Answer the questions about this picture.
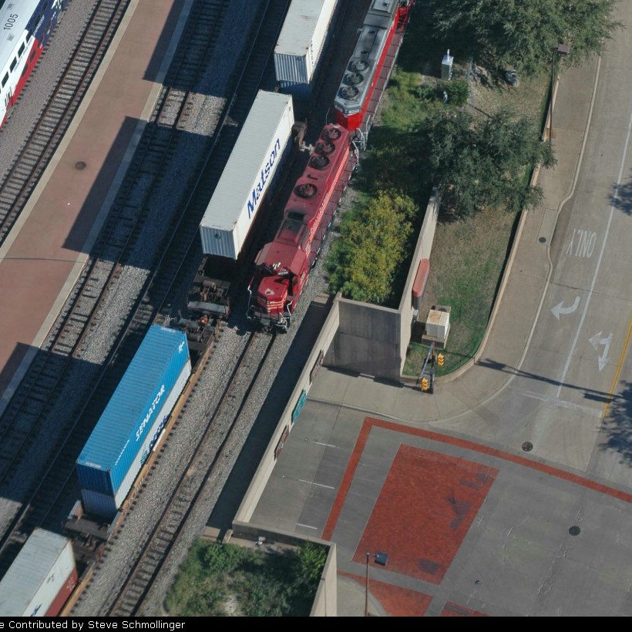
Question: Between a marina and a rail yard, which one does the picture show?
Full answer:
This image shows a rail yard.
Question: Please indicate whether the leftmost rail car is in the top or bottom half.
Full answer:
The leftmost rail car sits in the bottom half of the picture.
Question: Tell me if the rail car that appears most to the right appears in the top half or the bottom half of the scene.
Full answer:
The rail car that appears most to the right is in the top half of the image.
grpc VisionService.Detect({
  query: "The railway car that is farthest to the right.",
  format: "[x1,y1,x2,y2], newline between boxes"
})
[330,0,417,166]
